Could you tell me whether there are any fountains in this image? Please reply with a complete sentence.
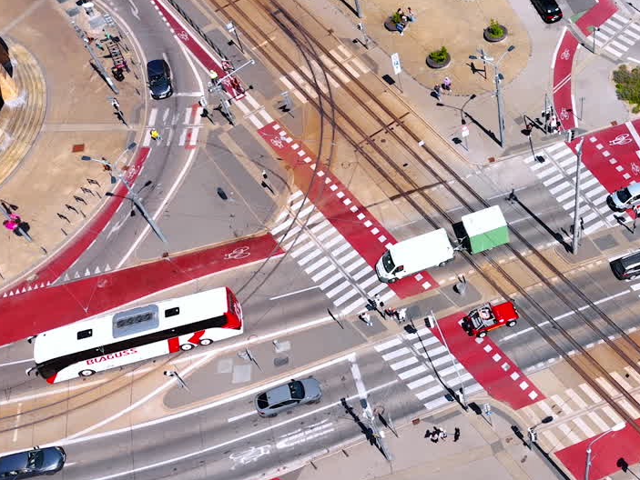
No, I can't see a single fountain in this photo.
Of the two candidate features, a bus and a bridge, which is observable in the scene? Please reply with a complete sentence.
Looking from above, you can make out a bus.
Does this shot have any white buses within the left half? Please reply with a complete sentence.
Yes, I can see a white bus within the left half.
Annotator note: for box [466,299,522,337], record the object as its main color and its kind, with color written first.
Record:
red car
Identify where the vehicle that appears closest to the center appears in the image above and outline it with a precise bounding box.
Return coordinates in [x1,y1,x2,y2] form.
[369,223,457,282]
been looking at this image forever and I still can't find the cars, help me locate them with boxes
[146,61,173,100]
[0,442,67,480]
[612,248,640,281]
[533,0,563,23]
[607,179,640,212]
[466,299,522,337]
[254,376,322,419]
